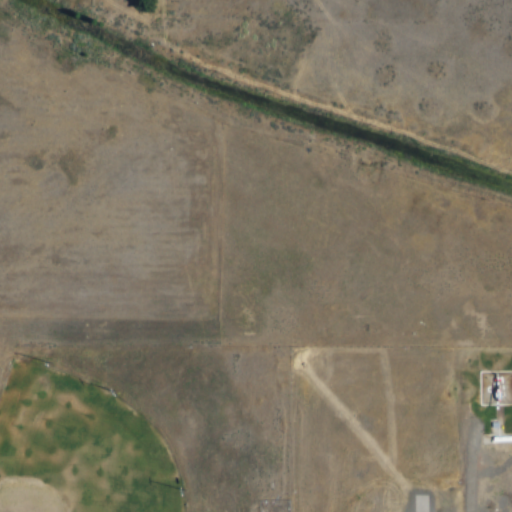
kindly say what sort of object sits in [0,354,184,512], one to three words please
baseball field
